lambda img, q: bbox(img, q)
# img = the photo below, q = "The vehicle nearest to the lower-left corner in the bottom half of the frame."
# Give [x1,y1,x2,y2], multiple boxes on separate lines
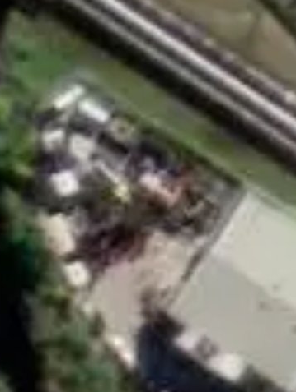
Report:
[64,261,90,286]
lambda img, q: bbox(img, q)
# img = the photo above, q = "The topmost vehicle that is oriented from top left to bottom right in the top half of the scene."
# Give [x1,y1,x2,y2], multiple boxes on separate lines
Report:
[75,95,113,127]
